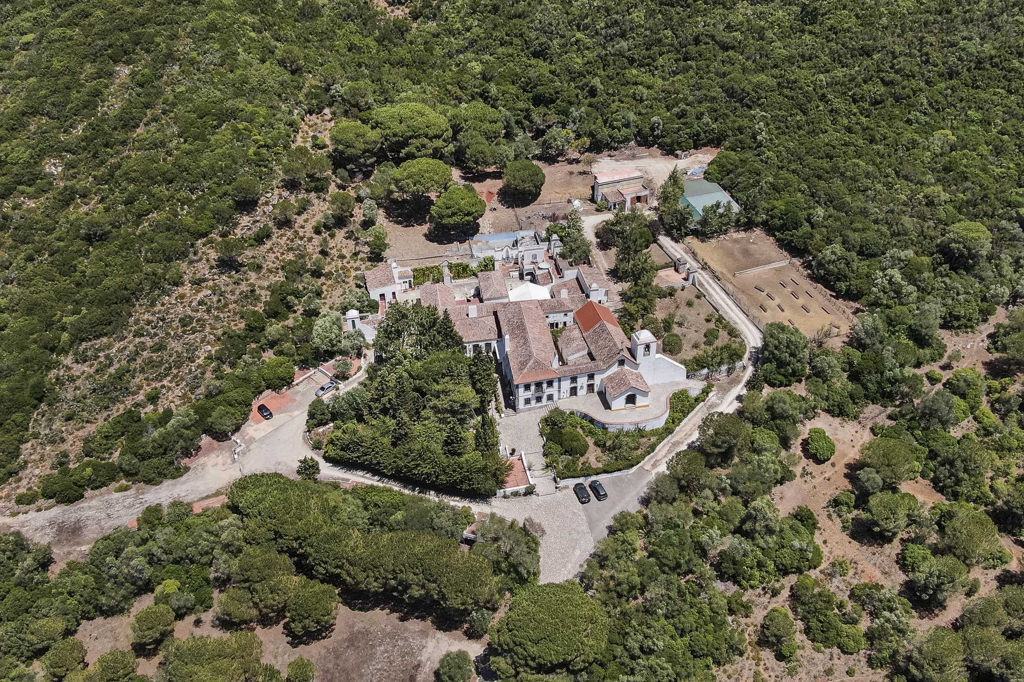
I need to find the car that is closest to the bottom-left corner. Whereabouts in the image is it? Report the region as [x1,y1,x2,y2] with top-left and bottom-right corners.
[257,402,272,417]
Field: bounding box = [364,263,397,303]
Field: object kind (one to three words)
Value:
house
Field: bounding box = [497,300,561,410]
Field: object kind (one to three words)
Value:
house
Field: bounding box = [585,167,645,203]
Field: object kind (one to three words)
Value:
barn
